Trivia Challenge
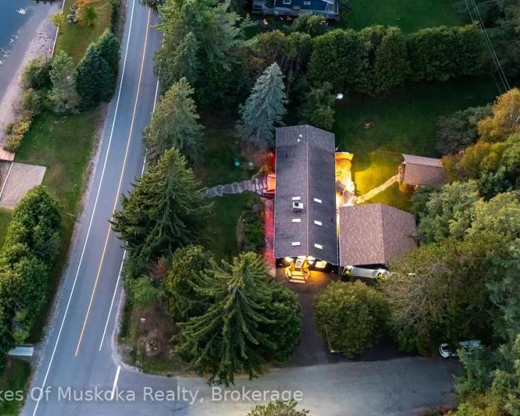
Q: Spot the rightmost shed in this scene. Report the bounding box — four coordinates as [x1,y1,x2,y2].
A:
[390,151,452,190]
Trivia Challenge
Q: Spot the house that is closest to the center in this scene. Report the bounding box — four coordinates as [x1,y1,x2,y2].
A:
[251,122,341,290]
